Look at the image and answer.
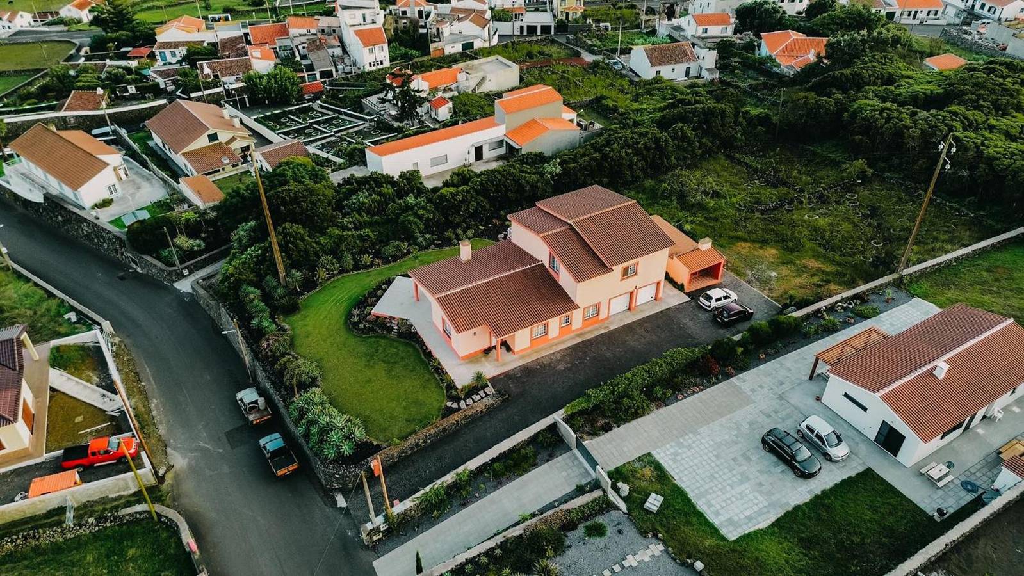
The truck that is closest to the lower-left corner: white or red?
red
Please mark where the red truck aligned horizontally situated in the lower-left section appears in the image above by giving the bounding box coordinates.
[53,437,140,477]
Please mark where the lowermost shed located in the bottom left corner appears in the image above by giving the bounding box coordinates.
[27,470,80,499]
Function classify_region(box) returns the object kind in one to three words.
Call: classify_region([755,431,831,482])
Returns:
car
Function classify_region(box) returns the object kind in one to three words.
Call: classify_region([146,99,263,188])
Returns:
house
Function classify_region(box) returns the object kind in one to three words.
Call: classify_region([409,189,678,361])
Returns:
house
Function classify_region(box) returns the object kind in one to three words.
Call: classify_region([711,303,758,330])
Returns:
car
